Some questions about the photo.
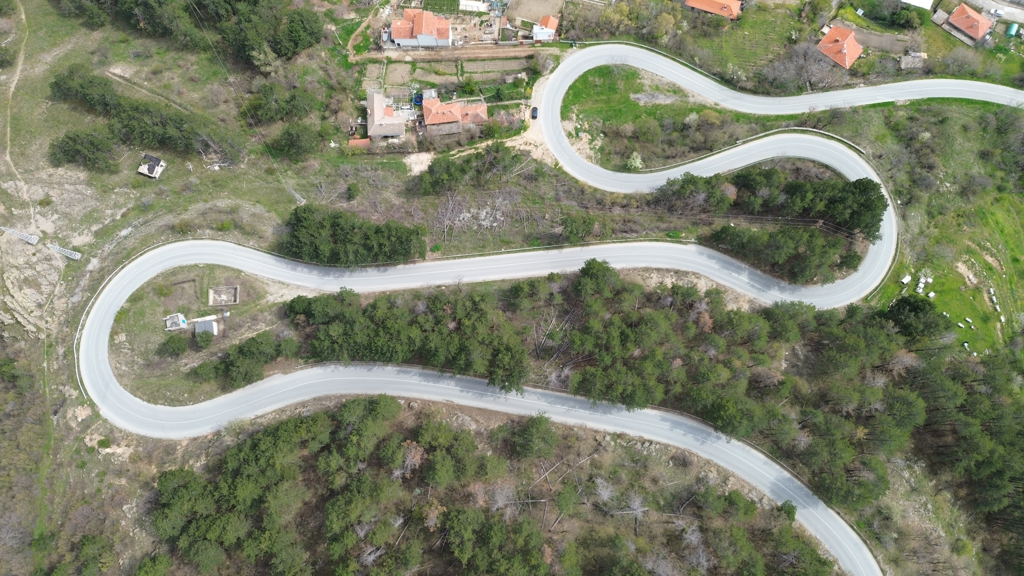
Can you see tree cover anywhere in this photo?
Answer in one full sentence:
Yes, there is tree cover in the image.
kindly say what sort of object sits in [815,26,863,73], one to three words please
house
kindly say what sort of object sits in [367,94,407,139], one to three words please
house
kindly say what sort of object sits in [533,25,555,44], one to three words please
shed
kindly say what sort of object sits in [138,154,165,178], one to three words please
shed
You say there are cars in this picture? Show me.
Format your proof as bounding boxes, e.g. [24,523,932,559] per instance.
[532,107,537,118]
[990,10,1005,17]
[389,32,394,42]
